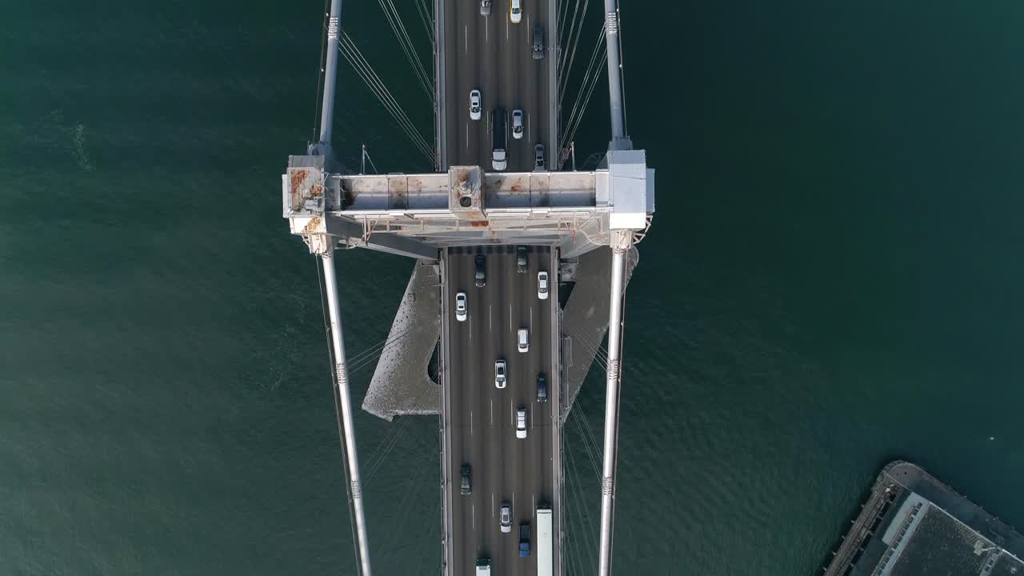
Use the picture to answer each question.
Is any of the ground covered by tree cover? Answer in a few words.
No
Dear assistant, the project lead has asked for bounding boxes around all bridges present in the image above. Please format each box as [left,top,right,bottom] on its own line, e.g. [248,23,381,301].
[283,0,654,576]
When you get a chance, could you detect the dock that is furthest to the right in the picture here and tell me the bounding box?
[812,455,1024,576]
